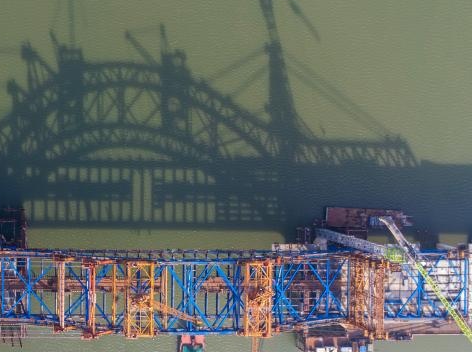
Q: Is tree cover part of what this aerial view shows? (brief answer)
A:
No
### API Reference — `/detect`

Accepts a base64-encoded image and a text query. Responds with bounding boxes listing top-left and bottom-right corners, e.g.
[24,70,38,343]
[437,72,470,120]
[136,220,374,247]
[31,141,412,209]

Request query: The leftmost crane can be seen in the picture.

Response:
[120,256,198,335]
